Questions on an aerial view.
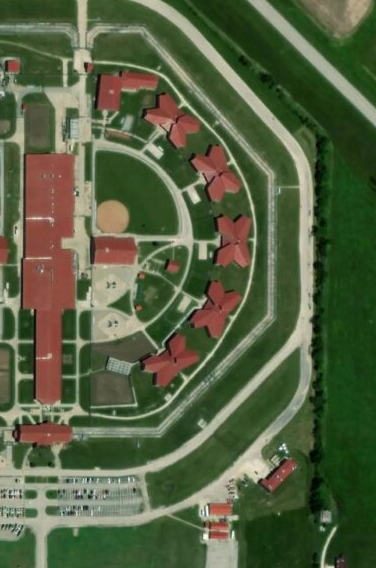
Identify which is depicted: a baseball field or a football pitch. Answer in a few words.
baseball field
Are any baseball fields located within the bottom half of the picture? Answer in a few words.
No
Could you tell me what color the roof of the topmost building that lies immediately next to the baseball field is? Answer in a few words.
red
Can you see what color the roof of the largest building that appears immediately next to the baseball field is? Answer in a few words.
red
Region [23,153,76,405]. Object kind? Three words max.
building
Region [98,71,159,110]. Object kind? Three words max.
building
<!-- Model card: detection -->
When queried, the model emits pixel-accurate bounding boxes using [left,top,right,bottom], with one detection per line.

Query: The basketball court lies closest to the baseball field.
[93,266,135,306]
